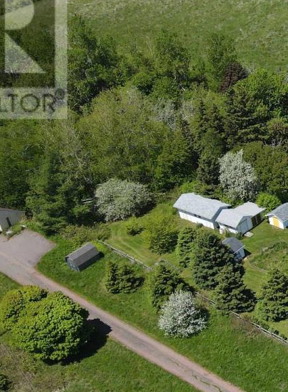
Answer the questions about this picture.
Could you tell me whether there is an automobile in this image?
No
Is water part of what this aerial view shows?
No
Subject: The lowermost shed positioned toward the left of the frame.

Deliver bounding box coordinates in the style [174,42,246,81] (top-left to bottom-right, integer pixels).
[64,242,108,272]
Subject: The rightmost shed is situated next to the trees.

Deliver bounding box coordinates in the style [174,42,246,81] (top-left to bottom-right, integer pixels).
[264,204,288,229]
